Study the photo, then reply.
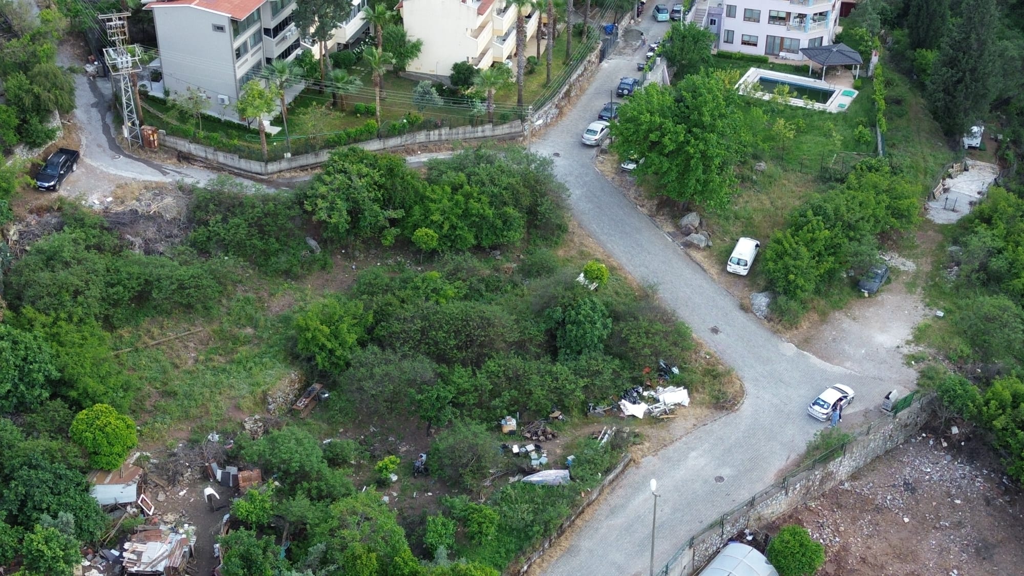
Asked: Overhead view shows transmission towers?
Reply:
Yes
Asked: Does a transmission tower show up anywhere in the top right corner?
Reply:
No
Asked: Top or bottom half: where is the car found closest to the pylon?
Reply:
top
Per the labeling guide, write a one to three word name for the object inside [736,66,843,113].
swimming pool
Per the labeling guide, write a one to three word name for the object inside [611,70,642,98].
car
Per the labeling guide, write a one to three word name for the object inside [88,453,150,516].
shed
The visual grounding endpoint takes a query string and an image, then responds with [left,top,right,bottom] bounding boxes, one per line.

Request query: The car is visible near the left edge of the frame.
[37,145,81,185]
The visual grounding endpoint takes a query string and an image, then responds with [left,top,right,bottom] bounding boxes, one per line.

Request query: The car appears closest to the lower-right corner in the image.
[804,383,860,421]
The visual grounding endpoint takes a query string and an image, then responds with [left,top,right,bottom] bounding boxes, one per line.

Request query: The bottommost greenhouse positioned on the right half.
[693,539,781,576]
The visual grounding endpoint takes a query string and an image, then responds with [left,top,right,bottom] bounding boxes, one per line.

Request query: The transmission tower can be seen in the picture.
[84,16,142,151]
